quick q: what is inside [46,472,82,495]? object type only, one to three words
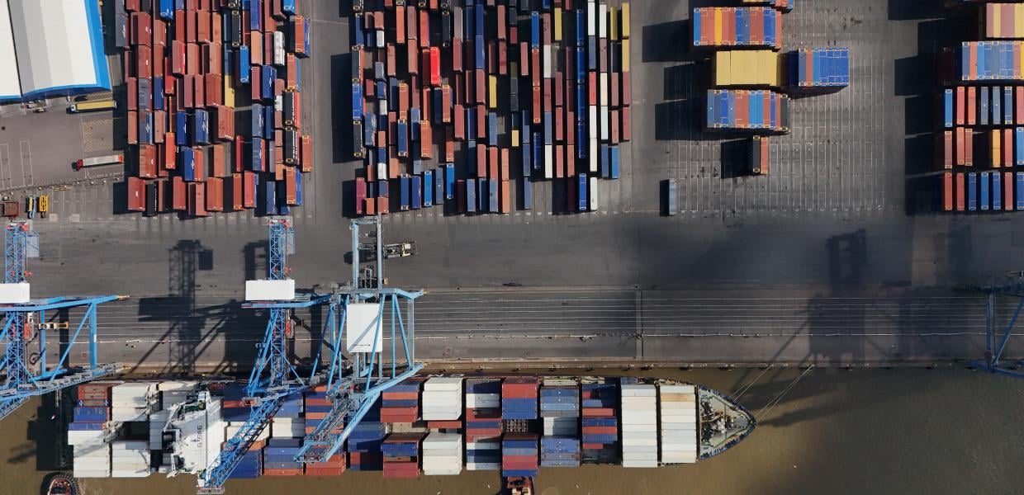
boat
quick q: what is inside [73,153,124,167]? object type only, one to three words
vehicle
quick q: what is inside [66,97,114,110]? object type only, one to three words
vehicle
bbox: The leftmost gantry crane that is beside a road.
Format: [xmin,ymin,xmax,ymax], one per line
[0,218,140,420]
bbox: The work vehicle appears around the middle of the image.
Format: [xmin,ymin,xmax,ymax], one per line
[384,239,422,256]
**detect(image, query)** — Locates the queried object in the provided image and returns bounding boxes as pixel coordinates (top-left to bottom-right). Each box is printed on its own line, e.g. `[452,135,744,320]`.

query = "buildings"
[0,0,117,97]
